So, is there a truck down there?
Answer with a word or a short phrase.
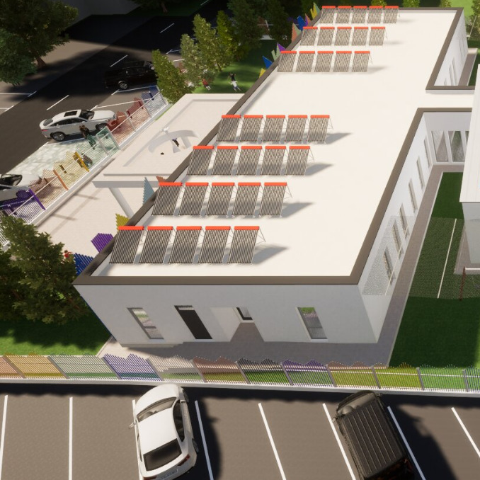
No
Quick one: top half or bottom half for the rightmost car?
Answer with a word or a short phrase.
bottom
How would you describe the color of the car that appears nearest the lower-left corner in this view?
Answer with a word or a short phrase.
white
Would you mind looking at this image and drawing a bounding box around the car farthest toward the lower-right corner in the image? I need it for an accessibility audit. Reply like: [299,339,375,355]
[336,396,420,480]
